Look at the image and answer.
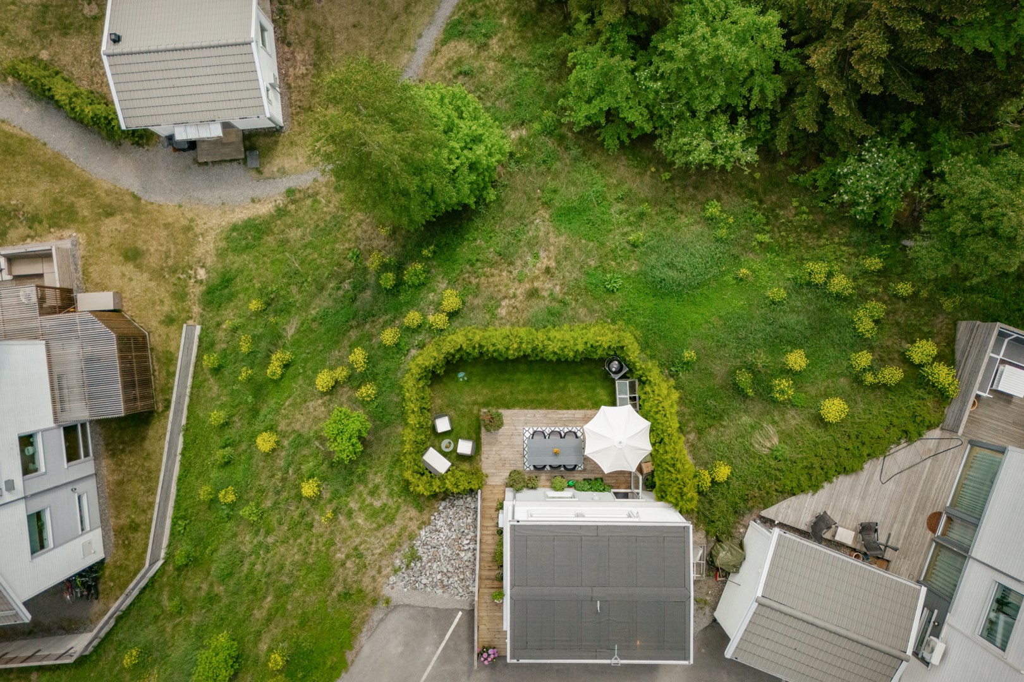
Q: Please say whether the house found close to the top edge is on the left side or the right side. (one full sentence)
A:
The house found close to the top edge appears in the left half of the scene.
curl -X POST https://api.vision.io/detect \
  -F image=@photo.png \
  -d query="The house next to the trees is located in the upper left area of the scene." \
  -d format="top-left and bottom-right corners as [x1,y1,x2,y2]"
[100,0,285,137]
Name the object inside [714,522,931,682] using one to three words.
building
